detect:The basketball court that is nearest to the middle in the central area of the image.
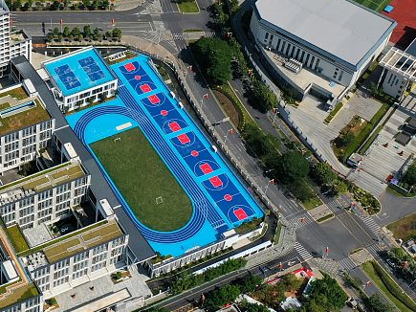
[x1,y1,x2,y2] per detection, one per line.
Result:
[170,130,222,175]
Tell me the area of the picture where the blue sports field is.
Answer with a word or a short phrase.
center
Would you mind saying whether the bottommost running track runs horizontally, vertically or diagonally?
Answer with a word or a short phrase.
diagonally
